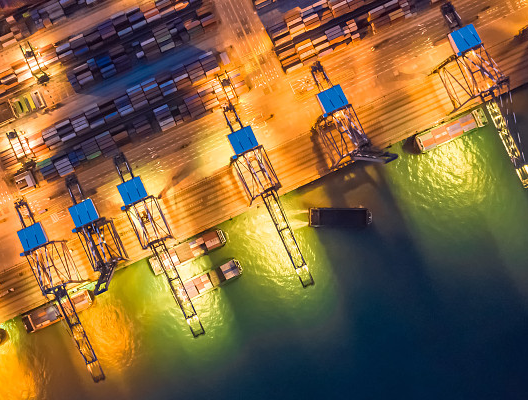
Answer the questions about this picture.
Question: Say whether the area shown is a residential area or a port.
port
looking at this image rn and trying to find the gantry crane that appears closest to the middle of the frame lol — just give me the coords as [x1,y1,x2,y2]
[219,101,315,290]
